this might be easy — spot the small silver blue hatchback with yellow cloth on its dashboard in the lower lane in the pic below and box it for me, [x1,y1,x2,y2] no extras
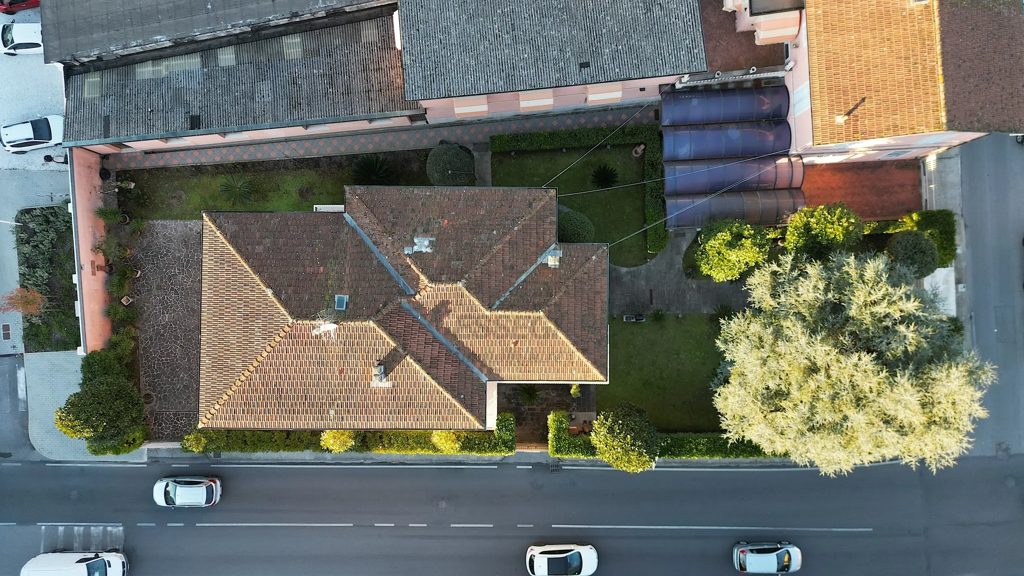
[732,539,799,576]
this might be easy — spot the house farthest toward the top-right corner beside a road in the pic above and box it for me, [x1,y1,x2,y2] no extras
[768,0,1024,164]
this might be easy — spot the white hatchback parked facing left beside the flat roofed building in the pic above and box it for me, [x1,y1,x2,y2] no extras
[0,17,45,58]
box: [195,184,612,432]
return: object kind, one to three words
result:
house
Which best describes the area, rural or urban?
urban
